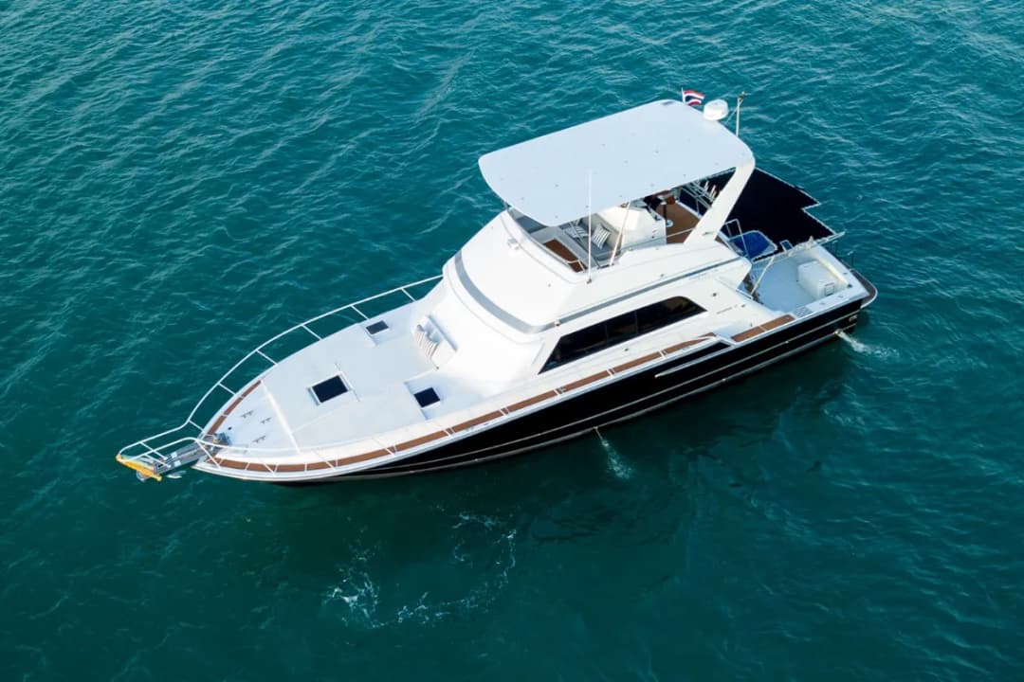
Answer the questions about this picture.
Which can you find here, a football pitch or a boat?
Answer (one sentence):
The image shows a boat.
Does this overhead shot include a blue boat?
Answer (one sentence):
No, this view has no blue boat in it.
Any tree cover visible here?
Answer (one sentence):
No, the picture contains no tree cover.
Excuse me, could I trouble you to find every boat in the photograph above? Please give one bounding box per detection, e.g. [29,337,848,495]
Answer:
[114,89,872,486]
